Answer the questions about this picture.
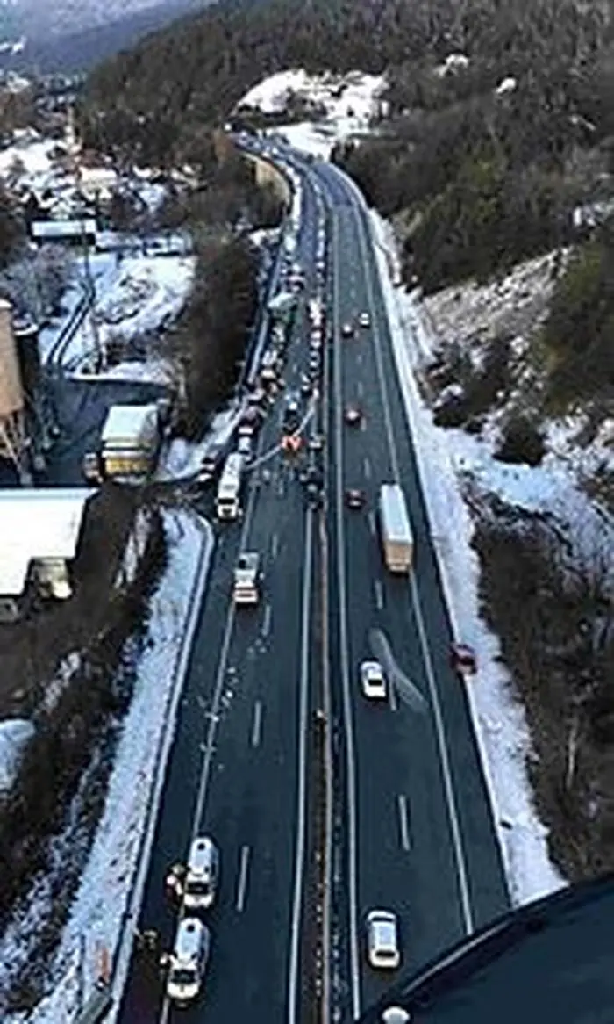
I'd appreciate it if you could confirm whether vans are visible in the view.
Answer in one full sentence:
Yes, the photo shows a van.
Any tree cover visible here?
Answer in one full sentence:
Yes, tree cover shows up in the scene.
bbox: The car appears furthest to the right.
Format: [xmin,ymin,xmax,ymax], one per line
[451,642,476,678]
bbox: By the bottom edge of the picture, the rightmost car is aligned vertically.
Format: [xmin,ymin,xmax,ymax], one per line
[367,911,399,976]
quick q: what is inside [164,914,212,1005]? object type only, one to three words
van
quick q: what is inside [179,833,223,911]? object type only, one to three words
van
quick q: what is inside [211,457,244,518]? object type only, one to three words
bus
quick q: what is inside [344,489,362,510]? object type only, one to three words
car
